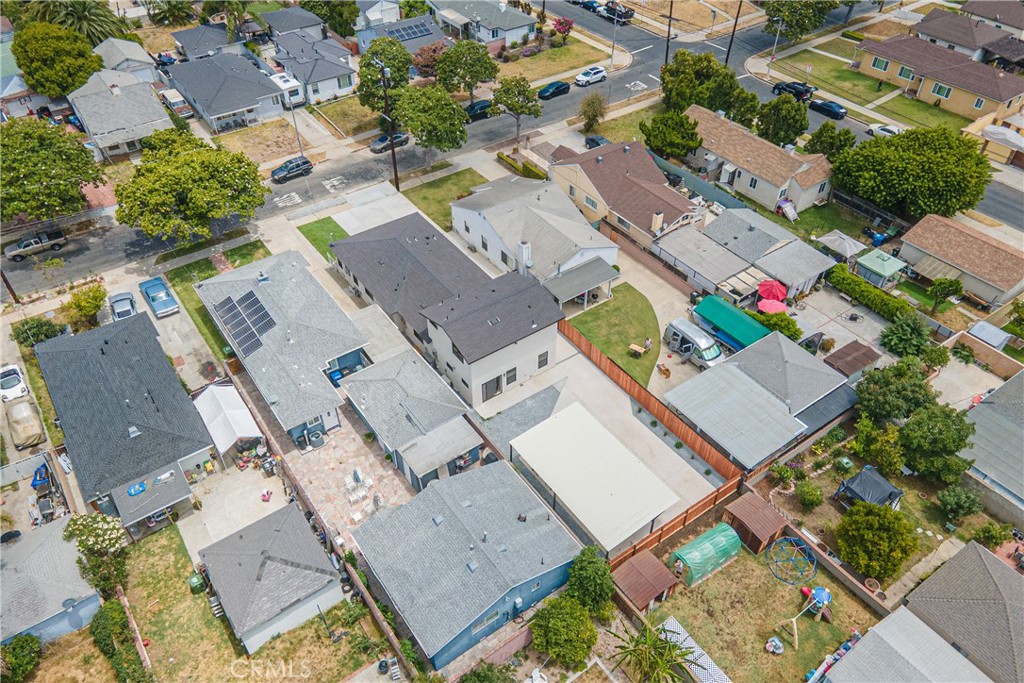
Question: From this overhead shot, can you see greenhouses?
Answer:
Yes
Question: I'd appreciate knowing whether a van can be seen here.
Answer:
Yes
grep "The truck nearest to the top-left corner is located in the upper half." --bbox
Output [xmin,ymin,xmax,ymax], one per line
[161,88,191,118]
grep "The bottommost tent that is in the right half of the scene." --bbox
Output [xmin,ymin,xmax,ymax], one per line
[832,465,903,516]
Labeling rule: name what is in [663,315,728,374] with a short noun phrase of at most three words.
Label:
van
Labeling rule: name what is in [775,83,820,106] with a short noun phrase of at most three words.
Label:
car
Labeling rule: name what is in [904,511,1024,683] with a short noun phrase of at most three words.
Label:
house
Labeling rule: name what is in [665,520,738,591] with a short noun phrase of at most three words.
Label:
greenhouse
